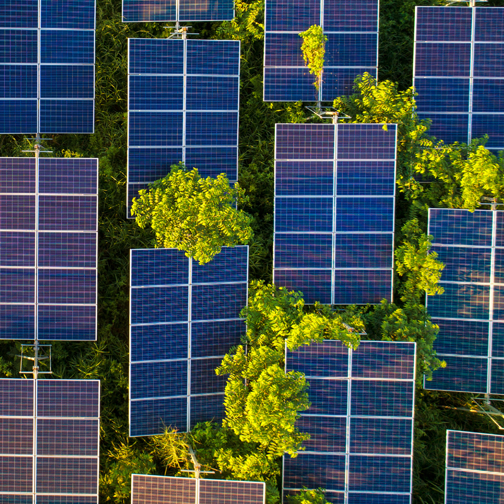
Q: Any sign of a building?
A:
No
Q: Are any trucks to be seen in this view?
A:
No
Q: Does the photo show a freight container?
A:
No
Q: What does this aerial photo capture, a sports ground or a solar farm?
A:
solar farm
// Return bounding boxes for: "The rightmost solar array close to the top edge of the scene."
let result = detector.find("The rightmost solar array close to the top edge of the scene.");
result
[412,0,504,190]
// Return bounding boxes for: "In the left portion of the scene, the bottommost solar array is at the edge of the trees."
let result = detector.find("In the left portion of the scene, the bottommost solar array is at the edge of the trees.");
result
[132,467,264,504]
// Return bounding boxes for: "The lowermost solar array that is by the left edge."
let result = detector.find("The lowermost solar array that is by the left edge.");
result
[0,368,100,504]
